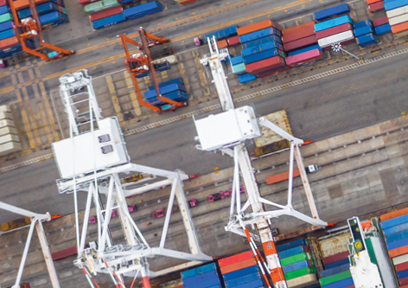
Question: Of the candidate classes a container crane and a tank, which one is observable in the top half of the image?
container crane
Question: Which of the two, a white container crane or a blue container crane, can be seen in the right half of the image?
white container crane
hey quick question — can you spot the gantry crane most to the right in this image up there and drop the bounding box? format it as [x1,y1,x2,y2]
[192,33,342,288]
